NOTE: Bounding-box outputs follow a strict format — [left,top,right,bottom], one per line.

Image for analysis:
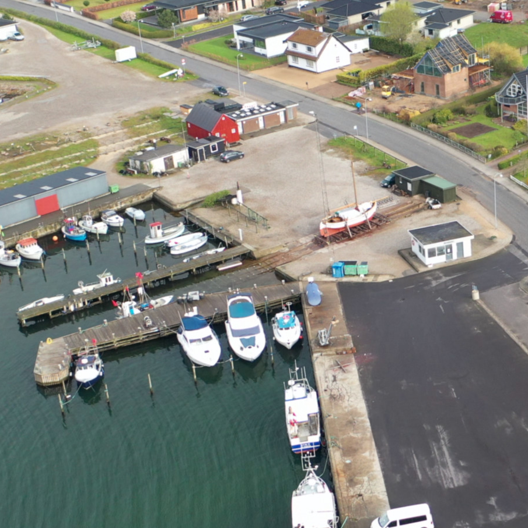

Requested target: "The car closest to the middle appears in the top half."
[218,150,246,164]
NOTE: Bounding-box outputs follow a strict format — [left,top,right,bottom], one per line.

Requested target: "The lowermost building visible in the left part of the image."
[0,159,97,225]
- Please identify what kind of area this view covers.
port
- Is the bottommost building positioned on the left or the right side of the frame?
right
